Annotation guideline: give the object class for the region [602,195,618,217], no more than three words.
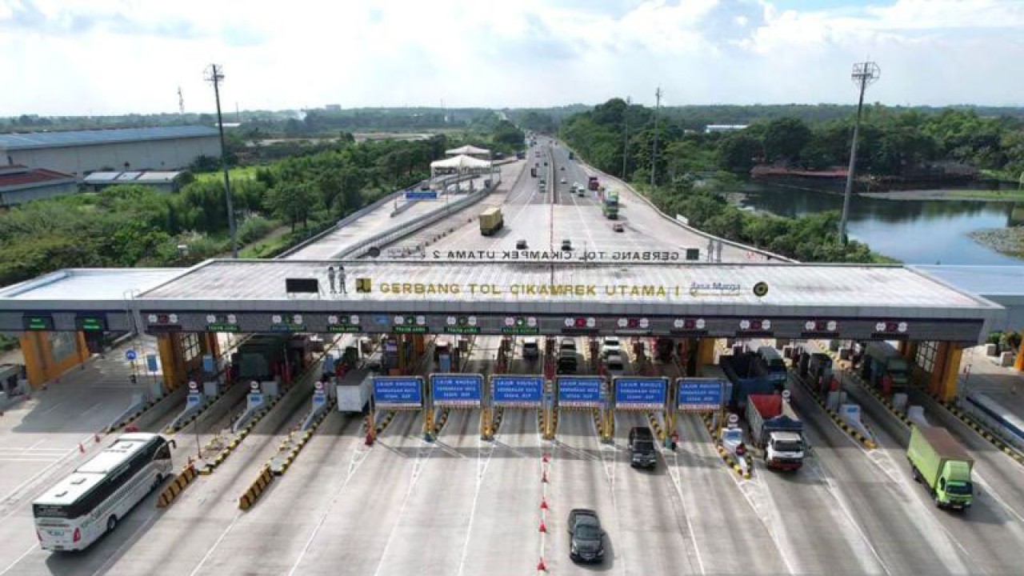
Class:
vehicle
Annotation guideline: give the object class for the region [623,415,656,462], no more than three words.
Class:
car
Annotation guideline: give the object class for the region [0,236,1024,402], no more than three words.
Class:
toll station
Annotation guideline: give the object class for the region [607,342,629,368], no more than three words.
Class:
car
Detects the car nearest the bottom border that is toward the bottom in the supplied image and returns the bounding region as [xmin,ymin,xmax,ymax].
[567,498,606,553]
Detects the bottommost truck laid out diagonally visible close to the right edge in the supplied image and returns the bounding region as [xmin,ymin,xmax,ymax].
[889,415,983,503]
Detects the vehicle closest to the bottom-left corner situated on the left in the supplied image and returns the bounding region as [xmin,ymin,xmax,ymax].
[37,433,173,544]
